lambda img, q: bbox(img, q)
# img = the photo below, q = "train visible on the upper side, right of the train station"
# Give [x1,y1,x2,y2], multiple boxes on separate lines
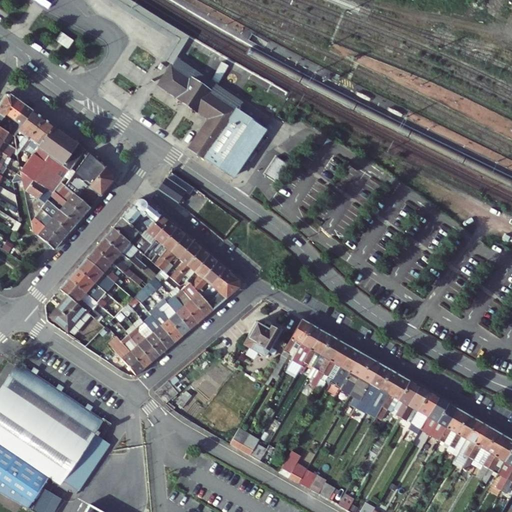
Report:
[249,48,512,188]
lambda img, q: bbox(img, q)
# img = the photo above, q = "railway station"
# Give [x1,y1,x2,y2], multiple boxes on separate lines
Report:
[161,66,231,159]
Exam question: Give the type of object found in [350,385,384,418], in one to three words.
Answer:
shed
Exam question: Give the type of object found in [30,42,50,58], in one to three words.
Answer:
vehicle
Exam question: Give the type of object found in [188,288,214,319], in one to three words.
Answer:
house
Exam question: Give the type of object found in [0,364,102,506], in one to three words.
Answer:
building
